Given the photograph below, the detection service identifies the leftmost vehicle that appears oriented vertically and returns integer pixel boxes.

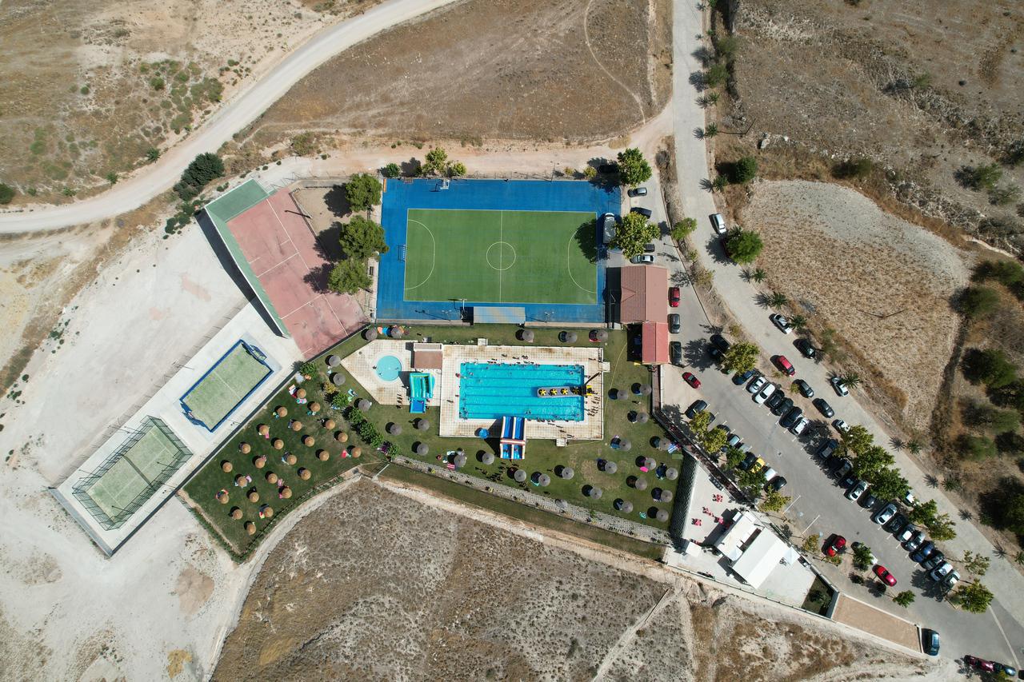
[604,215,616,245]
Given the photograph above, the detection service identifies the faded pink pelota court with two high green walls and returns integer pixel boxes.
[203,177,365,356]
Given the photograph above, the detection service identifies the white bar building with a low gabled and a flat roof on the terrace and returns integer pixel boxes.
[714,511,788,588]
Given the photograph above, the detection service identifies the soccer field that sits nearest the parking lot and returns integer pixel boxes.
[376,179,621,322]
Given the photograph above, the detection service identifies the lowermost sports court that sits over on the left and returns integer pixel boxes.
[73,420,190,529]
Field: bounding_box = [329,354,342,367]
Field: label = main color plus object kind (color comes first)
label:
gray umbrella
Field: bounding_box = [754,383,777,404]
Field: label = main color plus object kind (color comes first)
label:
white car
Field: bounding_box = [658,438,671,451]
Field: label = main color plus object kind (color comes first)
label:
gray umbrella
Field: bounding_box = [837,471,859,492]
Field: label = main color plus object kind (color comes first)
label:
black car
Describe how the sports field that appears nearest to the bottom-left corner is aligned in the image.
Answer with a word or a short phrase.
diagonally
